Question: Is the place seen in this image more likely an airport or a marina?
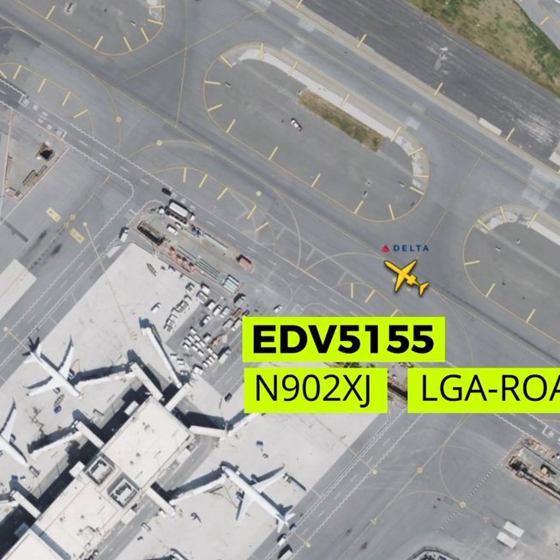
airport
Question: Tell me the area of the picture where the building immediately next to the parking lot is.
bottom left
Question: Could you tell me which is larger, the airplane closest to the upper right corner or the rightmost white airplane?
the rightmost white airplane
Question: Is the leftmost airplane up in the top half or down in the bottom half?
bottom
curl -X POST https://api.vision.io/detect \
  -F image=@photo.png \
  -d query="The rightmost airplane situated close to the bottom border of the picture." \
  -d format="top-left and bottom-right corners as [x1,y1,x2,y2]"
[222,466,296,533]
